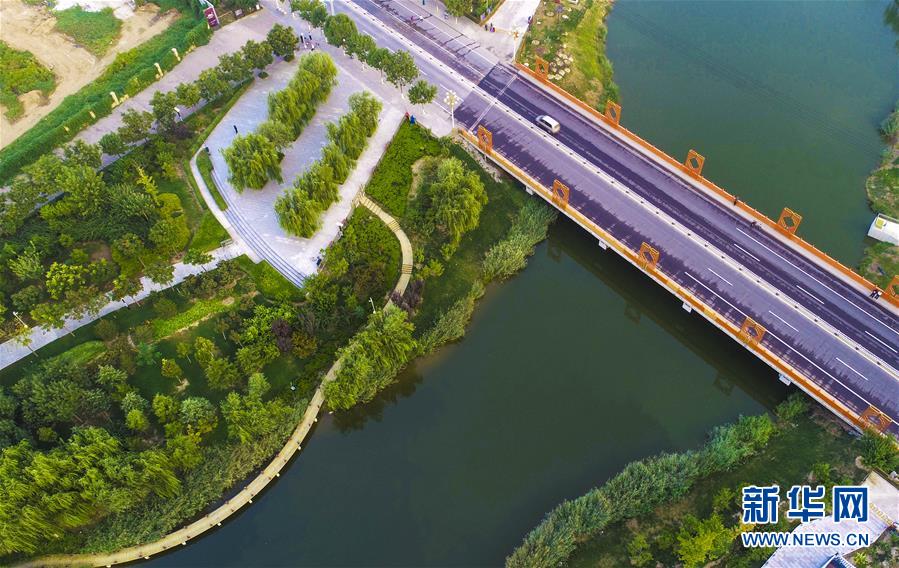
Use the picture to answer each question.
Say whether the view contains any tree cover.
Yes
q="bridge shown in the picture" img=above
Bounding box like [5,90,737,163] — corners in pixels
[450,56,899,460]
